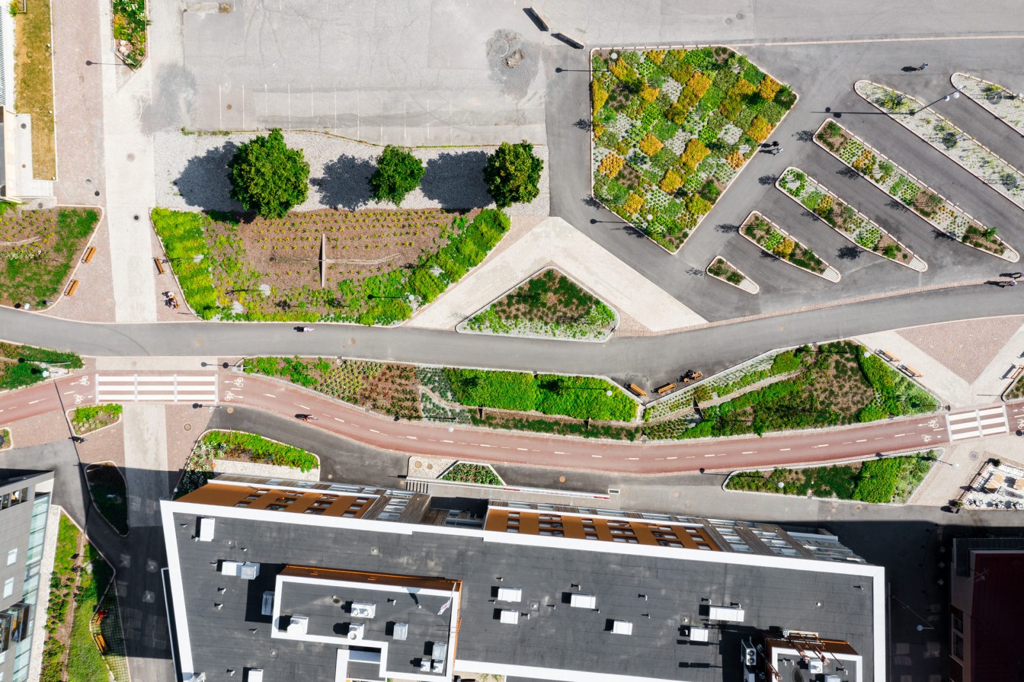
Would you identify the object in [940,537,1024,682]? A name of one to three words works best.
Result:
building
